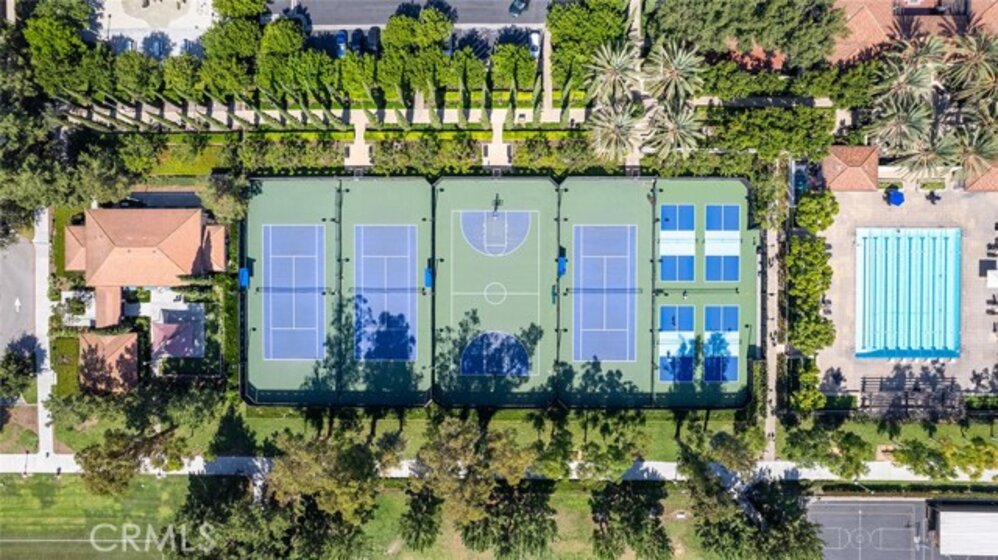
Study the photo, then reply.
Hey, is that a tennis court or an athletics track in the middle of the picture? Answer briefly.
tennis court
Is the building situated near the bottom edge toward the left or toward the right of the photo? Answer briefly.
right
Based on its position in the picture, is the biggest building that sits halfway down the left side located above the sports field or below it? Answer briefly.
above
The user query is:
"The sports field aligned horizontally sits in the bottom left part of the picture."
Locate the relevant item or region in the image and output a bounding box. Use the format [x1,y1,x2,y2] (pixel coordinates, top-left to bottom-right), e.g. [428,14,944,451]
[0,476,205,560]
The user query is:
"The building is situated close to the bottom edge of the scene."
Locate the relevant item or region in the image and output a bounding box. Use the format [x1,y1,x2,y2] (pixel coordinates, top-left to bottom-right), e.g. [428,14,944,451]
[912,493,998,554]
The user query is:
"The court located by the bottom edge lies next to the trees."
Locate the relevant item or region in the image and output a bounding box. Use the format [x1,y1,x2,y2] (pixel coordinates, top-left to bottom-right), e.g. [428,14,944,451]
[806,497,926,560]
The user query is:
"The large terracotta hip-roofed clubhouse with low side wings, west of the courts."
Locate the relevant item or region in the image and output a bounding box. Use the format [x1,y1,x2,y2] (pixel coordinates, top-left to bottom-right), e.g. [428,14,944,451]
[64,208,229,328]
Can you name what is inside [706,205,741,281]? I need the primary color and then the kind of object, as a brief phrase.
blue sports court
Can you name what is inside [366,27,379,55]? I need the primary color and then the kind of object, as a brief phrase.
black vehicle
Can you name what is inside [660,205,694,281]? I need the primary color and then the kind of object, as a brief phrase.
blue sports court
